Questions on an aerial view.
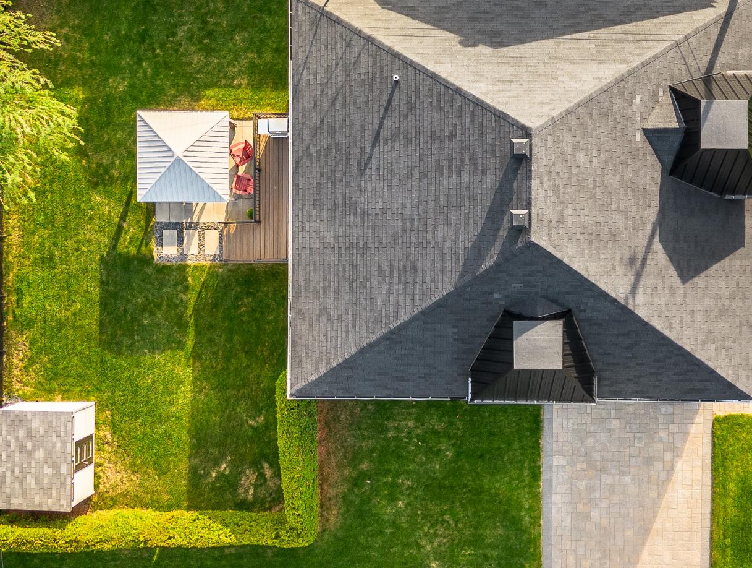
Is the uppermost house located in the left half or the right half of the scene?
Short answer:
right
